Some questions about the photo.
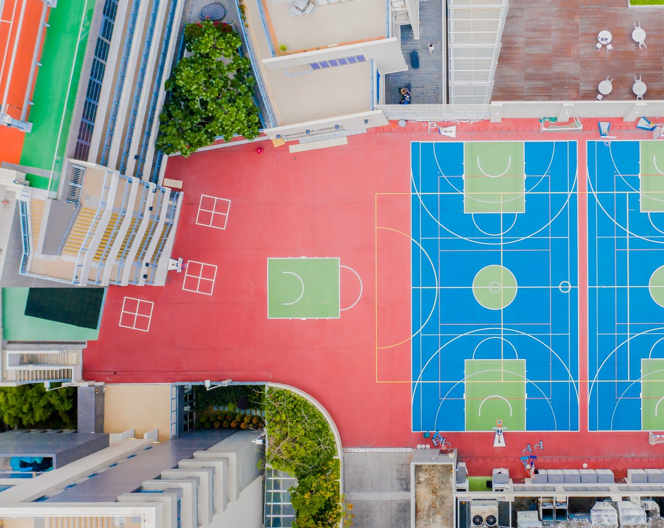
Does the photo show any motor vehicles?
No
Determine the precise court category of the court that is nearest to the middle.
basketball court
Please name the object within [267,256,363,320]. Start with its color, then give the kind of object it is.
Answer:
green basketball court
